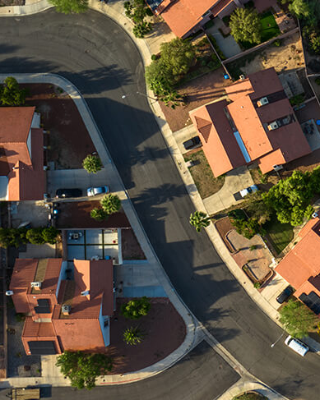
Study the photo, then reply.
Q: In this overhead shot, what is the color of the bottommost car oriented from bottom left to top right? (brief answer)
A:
black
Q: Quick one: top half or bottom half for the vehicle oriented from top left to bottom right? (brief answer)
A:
bottom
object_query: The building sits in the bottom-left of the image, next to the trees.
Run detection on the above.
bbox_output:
[5,258,119,356]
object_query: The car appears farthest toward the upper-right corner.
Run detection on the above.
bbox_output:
[179,134,202,151]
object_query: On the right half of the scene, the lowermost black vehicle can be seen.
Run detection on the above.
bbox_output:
[274,284,295,305]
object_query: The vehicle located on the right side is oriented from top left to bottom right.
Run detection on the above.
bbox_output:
[283,334,311,358]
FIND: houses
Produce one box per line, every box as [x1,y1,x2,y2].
[189,67,312,178]
[275,210,320,317]
[0,107,52,201]
[5,258,119,356]
[146,0,246,38]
